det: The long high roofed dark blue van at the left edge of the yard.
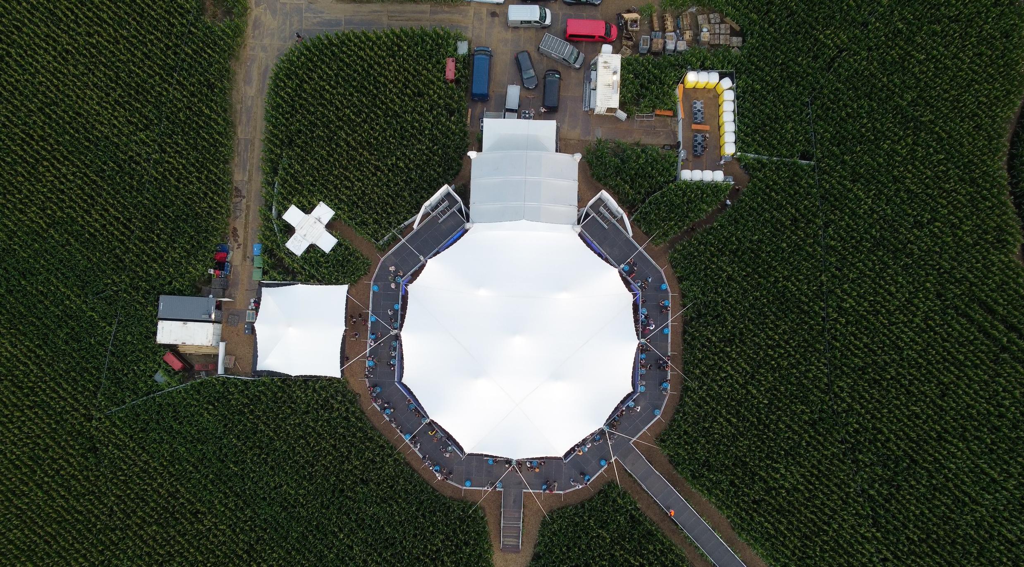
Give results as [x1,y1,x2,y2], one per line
[471,47,494,101]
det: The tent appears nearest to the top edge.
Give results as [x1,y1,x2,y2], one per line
[482,113,557,154]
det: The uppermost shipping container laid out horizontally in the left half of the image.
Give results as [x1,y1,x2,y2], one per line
[158,295,234,322]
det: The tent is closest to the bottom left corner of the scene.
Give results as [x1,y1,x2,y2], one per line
[252,283,353,378]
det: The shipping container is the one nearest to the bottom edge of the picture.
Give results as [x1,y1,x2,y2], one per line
[156,320,222,346]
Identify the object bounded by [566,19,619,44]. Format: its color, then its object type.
red vehicle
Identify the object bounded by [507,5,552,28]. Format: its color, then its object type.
white vehicle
